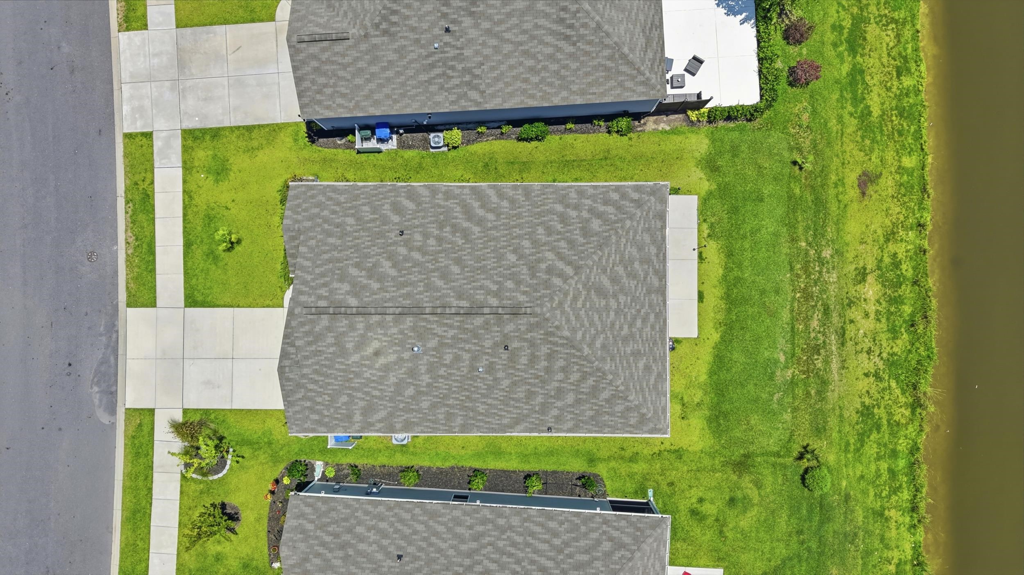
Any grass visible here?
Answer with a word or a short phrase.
Yes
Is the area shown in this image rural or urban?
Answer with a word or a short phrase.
urban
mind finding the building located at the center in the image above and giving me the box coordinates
[278,182,672,437]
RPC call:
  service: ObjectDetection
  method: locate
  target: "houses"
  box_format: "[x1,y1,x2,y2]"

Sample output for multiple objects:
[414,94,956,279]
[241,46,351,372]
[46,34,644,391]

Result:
[278,182,672,437]
[281,471,672,575]
[289,0,668,138]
